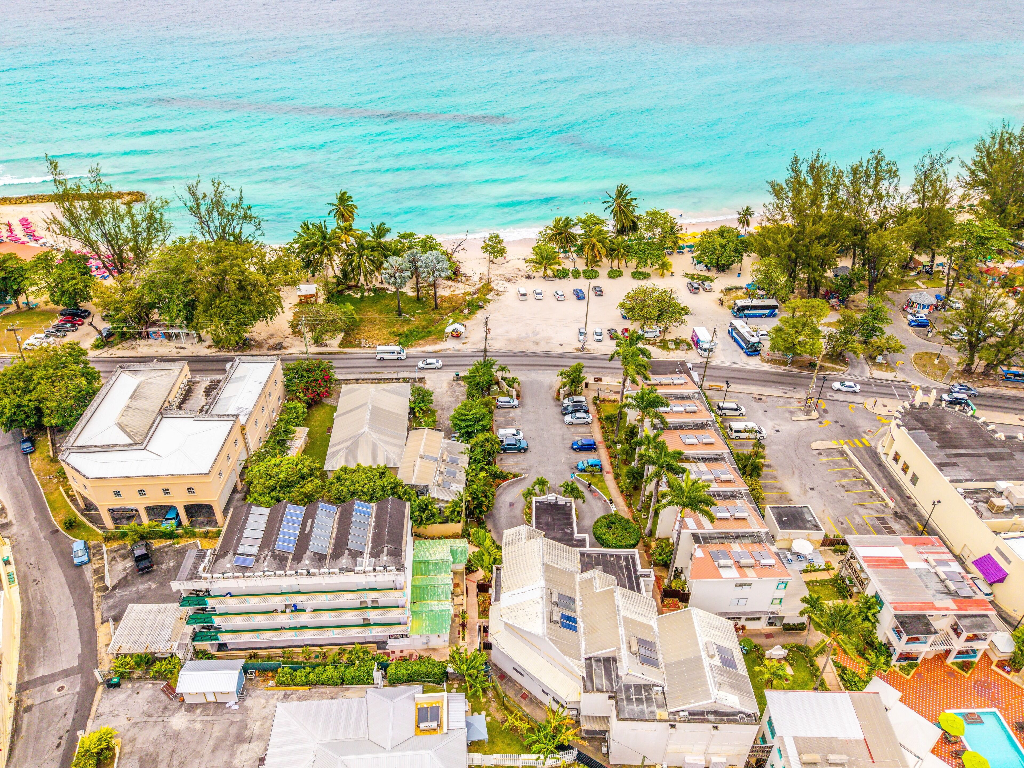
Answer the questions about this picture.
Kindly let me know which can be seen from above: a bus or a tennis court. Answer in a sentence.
Looking from above, you can make out a bus.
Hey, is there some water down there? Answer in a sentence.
Yes, water can be seen from above here.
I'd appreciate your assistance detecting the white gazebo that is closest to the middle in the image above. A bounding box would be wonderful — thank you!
[445,323,467,342]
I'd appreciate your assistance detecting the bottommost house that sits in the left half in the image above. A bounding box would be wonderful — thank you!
[264,684,468,768]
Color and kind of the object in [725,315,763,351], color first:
white bus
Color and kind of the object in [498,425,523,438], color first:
white vehicle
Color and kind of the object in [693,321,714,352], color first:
white truck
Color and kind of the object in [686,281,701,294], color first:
gray vehicle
